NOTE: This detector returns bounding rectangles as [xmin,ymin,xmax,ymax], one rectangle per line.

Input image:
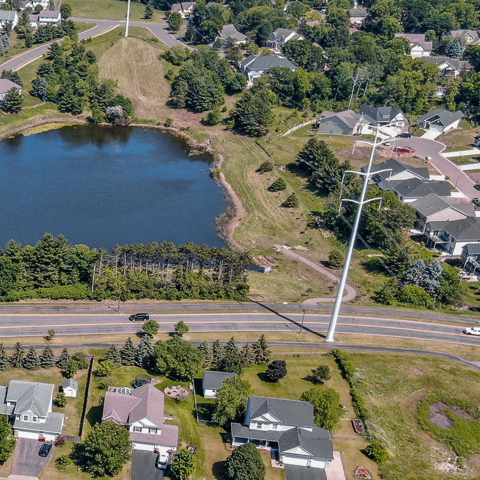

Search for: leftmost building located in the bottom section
[0,373,66,438]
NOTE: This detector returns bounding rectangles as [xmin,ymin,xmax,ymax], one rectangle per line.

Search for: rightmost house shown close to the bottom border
[229,394,336,470]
